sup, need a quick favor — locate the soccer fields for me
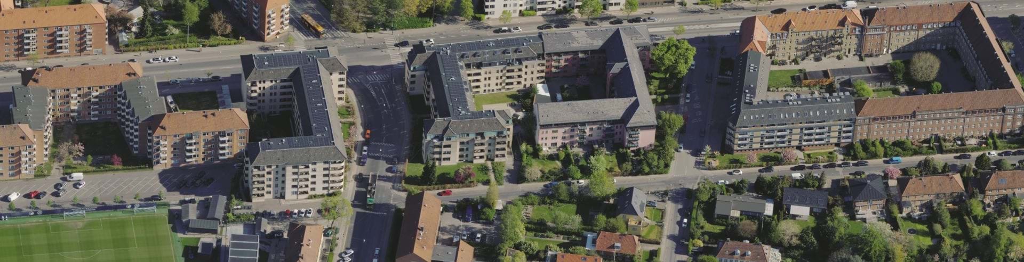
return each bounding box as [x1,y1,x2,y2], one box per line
[0,201,191,262]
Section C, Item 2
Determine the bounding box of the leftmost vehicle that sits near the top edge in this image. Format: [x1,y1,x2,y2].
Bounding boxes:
[301,13,325,38]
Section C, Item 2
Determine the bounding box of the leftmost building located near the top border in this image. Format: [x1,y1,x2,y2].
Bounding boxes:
[0,0,106,61]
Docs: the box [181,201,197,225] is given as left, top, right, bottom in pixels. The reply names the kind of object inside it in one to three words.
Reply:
shed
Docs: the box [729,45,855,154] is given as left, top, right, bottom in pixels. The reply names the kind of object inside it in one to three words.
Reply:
building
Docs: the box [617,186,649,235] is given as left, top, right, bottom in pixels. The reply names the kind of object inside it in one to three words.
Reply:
house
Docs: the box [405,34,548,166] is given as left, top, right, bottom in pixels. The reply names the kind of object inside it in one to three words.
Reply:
building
